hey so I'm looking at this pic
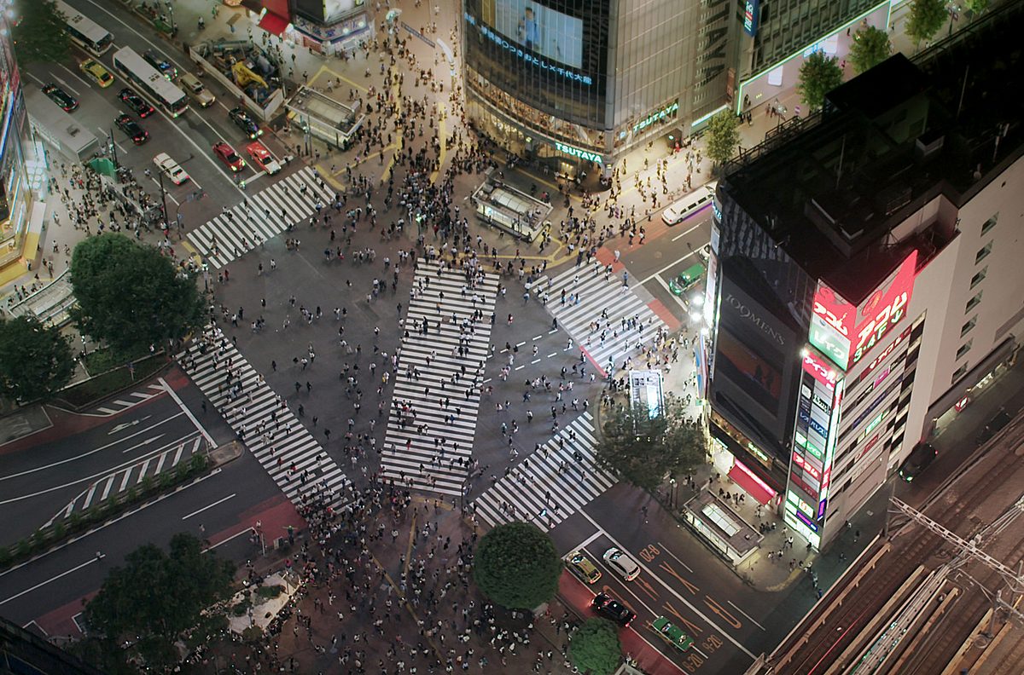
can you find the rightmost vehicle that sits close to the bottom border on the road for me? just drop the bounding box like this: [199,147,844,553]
[648,614,697,651]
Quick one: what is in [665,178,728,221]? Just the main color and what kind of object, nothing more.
white car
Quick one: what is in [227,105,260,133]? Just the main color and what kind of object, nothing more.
black car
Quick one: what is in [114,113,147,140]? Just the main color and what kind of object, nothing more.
black car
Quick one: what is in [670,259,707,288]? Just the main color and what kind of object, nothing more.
green car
